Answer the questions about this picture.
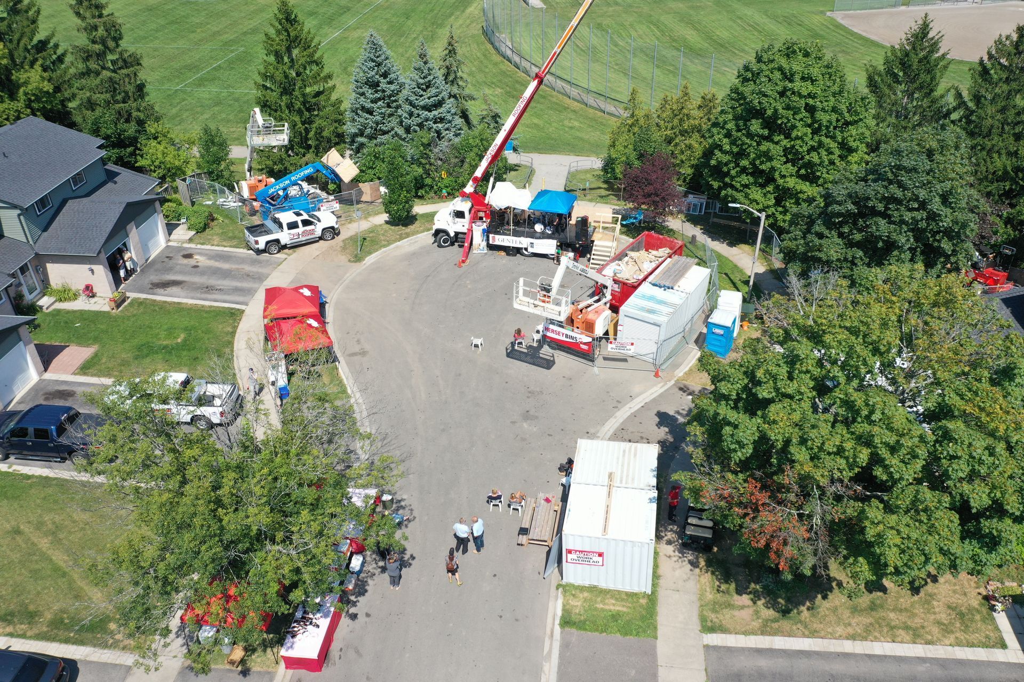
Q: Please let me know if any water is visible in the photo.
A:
No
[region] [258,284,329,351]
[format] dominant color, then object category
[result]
red tent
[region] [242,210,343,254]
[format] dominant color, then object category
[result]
white truck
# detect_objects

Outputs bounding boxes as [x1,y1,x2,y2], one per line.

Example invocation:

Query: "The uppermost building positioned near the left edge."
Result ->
[0,114,178,318]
